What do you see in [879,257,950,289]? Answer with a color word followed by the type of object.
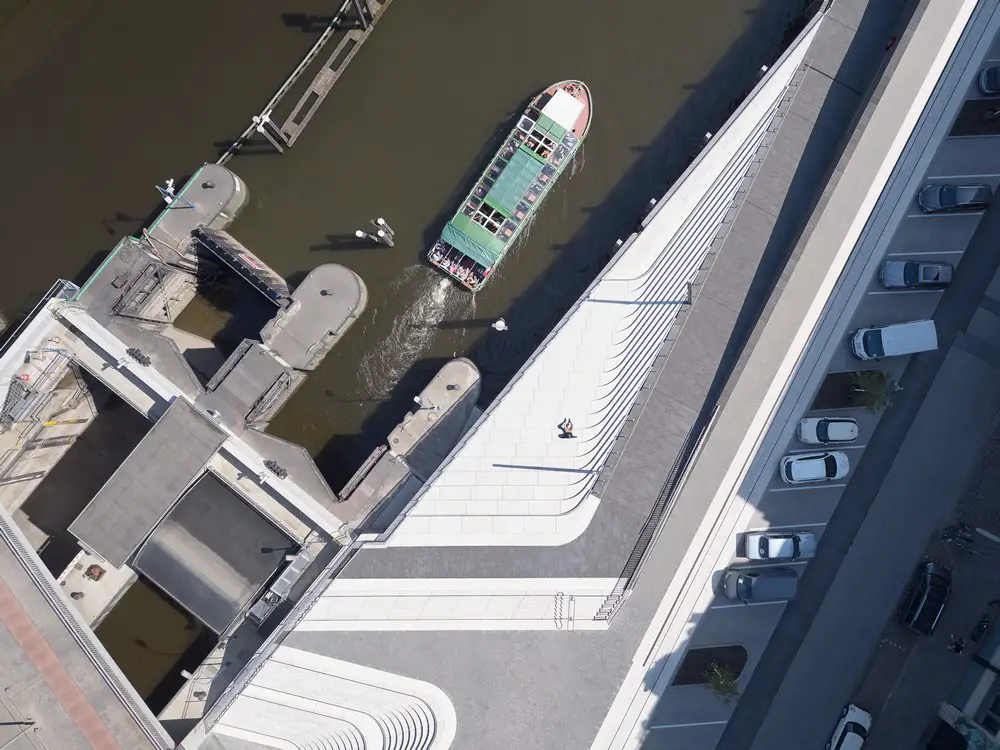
blue car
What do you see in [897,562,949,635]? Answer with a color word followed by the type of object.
black car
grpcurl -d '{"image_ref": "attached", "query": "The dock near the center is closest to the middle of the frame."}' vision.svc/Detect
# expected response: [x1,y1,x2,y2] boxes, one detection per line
[388,357,481,471]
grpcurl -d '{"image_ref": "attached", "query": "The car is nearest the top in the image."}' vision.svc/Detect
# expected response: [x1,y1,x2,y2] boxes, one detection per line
[976,67,1000,97]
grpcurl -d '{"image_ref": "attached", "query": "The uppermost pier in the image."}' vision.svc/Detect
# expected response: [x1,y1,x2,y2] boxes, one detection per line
[361,0,399,31]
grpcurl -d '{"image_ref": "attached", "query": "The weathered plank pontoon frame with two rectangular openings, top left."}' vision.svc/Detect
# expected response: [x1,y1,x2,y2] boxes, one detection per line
[281,24,376,150]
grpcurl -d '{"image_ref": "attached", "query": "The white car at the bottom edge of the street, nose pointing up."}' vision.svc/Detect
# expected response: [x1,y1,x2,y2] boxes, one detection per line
[819,703,869,750]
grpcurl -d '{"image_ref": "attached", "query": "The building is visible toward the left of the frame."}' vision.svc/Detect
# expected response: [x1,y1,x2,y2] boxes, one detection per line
[66,396,234,568]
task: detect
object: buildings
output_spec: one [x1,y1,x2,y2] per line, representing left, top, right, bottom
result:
[66,396,234,568]
[898,615,1000,750]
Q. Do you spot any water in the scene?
Yes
